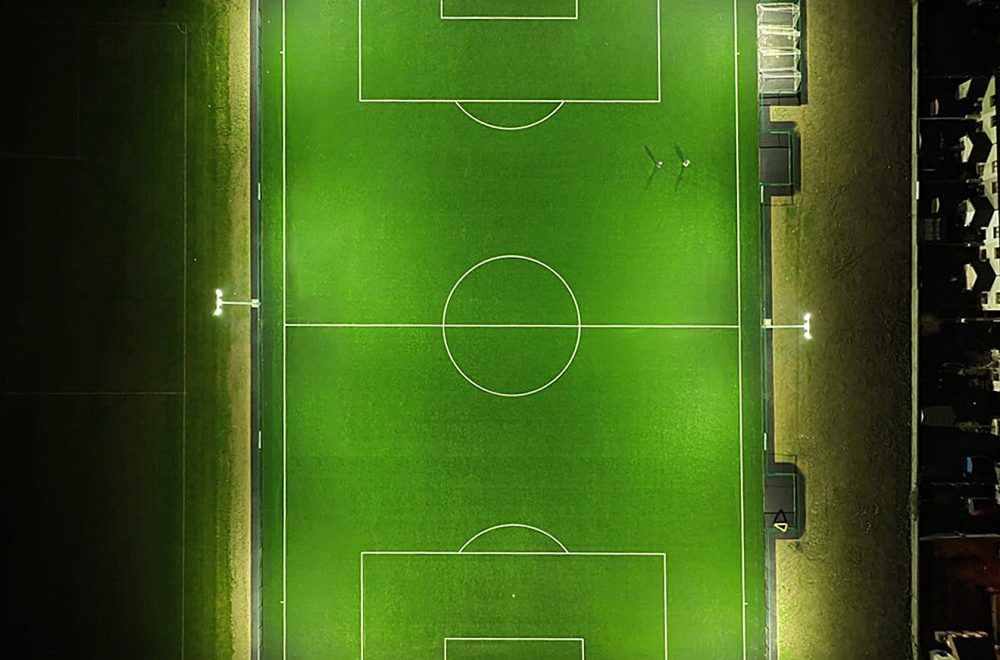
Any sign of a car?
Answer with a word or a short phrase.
No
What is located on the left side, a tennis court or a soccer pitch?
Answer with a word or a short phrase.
soccer pitch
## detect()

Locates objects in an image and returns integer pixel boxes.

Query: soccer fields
[0,22,184,660]
[261,0,768,660]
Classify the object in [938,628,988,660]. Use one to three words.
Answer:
shed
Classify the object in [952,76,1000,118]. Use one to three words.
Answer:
house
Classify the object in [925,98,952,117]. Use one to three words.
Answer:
shed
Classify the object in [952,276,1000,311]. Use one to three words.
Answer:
house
